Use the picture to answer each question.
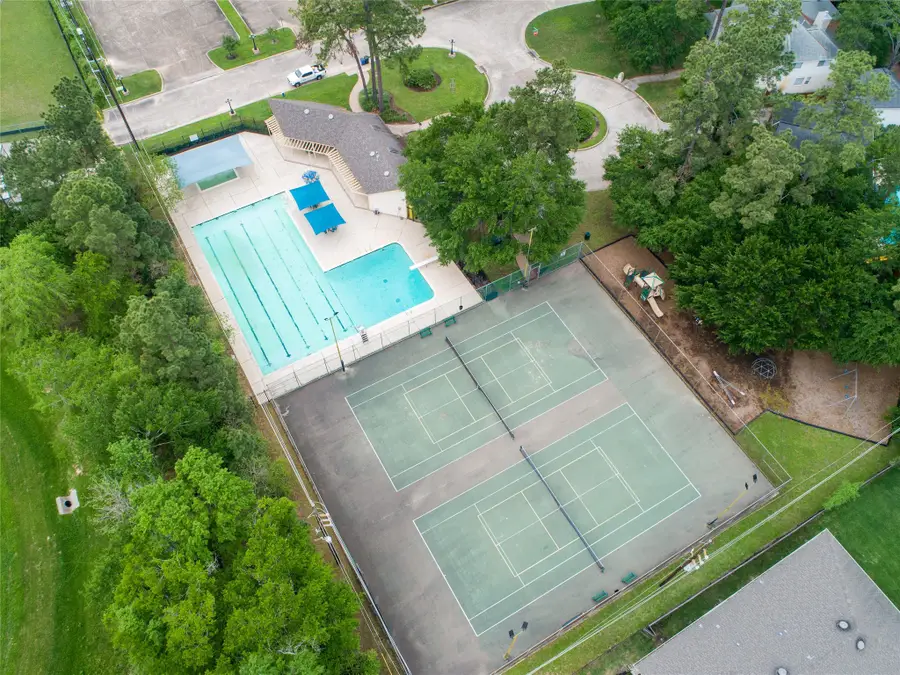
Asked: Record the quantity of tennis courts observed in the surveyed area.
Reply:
2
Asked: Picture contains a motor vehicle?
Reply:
Yes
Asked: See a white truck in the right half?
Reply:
No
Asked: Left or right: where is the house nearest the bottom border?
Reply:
right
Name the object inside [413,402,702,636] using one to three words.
tennis court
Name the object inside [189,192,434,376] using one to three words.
swimming pool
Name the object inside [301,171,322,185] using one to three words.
umbrella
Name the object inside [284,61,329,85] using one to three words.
truck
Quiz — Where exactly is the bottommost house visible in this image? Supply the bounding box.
[628,532,900,675]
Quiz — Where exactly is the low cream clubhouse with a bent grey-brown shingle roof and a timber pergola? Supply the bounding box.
[260,98,420,221]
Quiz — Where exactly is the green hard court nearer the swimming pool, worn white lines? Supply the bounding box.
[345,301,608,492]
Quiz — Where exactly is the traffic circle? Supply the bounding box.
[555,105,606,152]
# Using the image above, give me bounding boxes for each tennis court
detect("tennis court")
[413,402,702,636]
[345,301,608,492]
